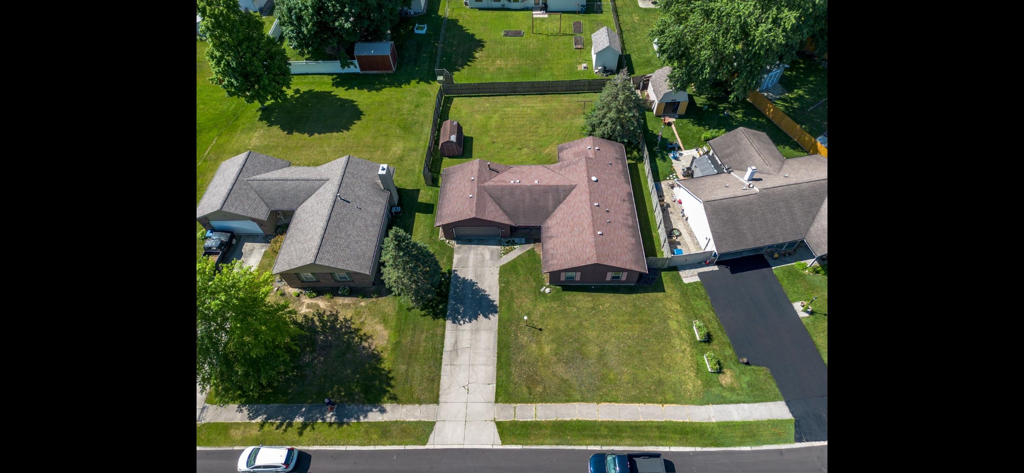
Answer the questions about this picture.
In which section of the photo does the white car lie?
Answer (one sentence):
The white car is in the bottom left part of the image.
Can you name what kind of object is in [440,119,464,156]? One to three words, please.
shed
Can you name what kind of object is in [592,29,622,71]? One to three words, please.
shed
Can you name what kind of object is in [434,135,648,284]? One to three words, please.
house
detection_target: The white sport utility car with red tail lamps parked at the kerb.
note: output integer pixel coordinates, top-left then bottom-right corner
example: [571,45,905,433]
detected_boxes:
[235,445,301,473]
